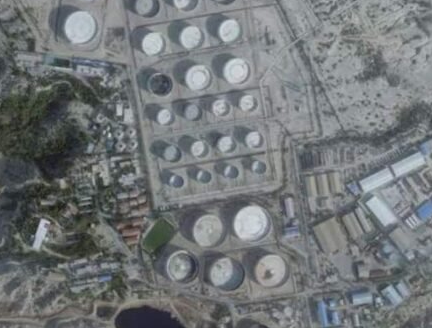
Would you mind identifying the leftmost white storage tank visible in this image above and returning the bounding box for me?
[64,11,98,44]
